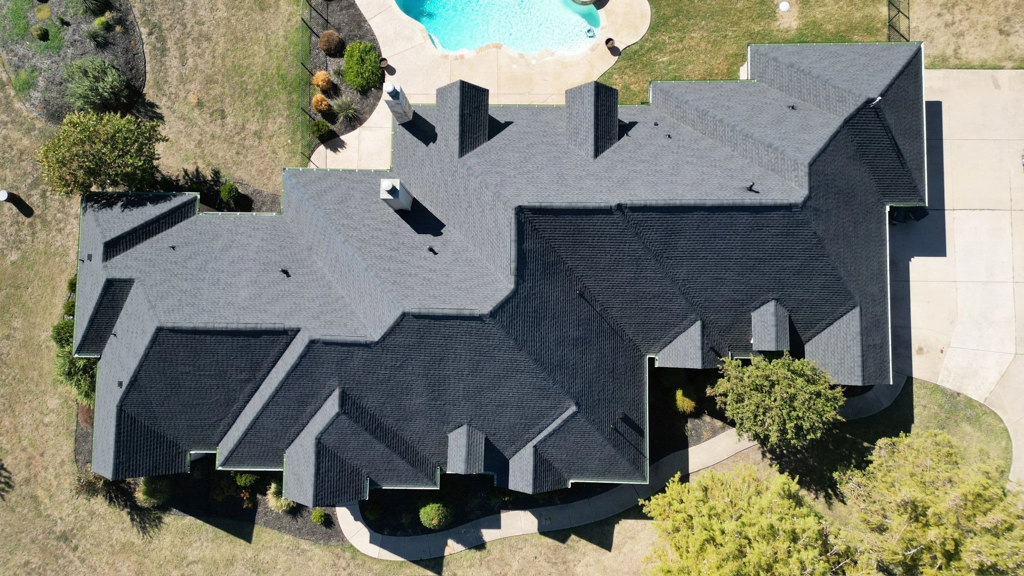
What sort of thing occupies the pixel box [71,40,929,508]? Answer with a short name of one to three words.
house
